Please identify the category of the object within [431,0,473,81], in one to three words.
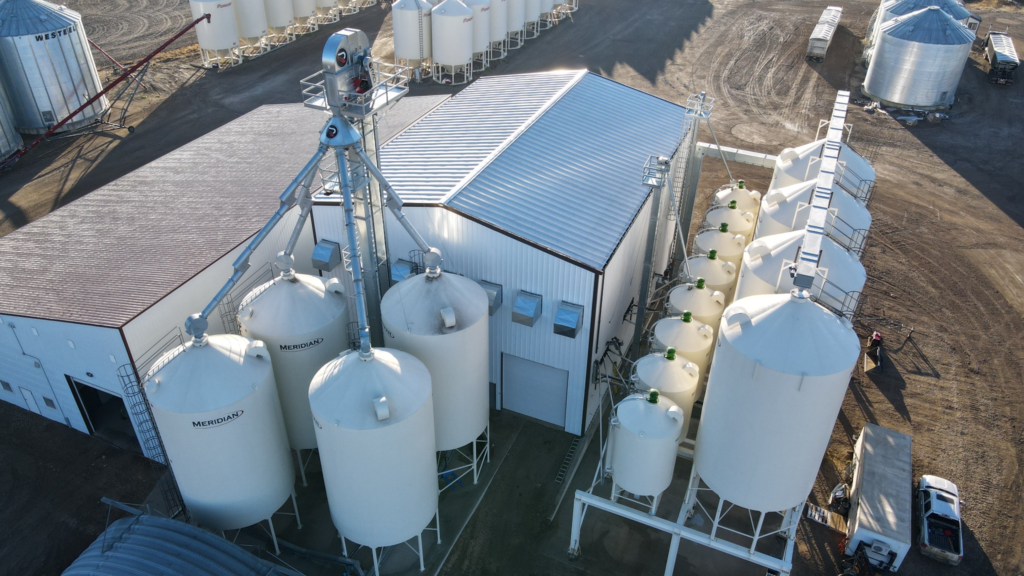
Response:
silo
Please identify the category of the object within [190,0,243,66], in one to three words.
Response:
silo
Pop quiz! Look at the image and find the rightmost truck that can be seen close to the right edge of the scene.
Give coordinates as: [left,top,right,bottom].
[982,24,1020,84]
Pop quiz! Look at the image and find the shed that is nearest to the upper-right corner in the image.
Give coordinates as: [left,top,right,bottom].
[962,5,984,35]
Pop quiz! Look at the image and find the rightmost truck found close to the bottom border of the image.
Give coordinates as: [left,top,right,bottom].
[912,474,965,569]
